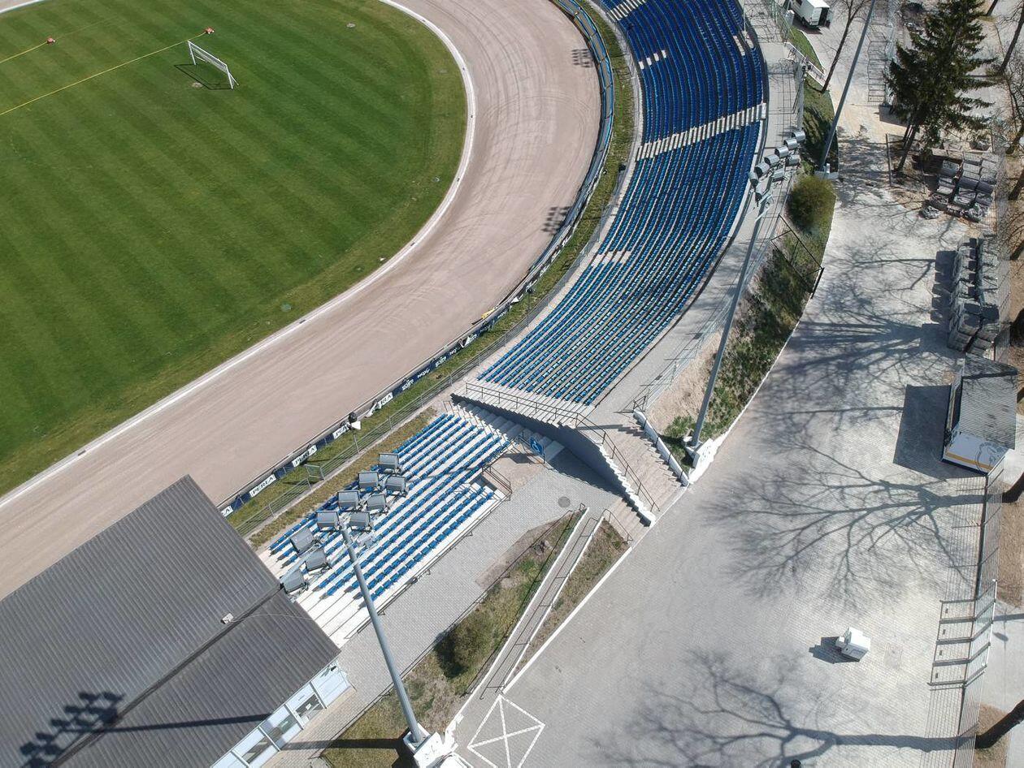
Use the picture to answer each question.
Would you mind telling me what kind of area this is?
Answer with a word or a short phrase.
sports ground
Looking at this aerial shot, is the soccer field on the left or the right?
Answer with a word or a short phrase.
left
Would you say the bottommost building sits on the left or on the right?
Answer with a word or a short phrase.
left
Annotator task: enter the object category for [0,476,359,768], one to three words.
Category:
building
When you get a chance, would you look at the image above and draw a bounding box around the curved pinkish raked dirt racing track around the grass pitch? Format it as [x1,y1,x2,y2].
[0,0,600,602]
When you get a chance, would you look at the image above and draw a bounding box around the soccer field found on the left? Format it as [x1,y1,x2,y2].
[0,0,469,509]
